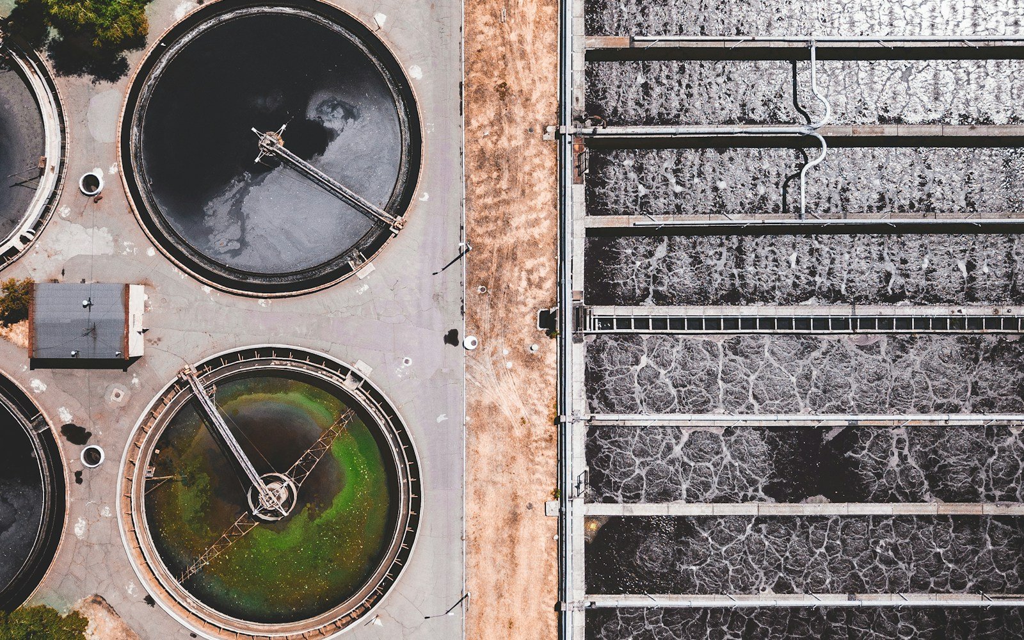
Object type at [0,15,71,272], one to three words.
storage tank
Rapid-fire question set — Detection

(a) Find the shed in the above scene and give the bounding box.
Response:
[24,282,150,360]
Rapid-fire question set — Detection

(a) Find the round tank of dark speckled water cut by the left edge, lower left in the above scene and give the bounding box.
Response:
[0,366,71,623]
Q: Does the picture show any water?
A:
Yes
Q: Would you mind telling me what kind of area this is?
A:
industrial area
